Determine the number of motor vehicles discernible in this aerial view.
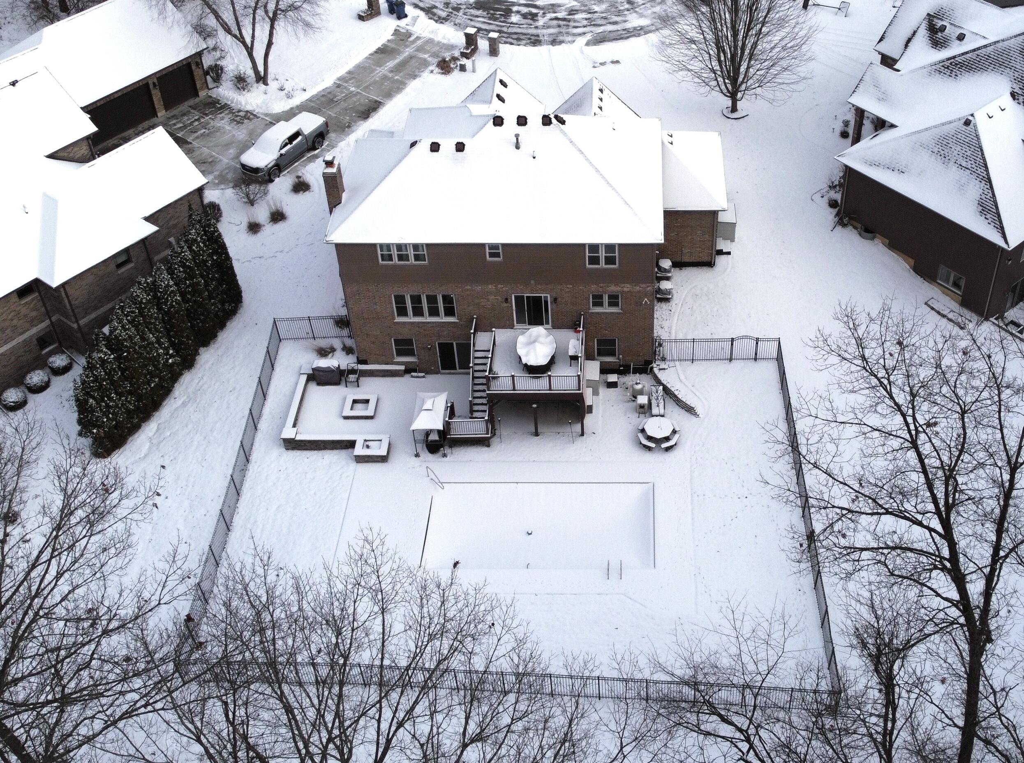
1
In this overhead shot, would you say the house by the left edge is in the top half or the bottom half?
top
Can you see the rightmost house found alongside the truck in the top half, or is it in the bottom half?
top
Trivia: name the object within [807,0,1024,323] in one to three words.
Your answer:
house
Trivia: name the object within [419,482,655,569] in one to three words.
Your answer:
swimming pool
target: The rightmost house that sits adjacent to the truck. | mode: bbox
[322,69,666,376]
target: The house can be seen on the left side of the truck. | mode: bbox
[0,0,211,390]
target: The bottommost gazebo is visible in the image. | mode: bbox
[409,392,451,464]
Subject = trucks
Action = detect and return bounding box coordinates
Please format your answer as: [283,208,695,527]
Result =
[232,111,332,183]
